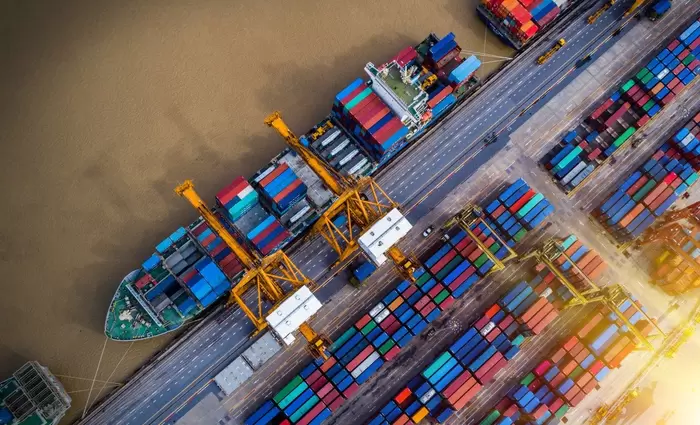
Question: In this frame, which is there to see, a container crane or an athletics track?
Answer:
container crane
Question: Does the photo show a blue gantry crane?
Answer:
No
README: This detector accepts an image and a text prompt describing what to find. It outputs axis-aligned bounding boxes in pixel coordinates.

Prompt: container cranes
[581,279,669,357]
[441,201,517,279]
[262,116,420,287]
[177,182,336,361]
[517,233,602,314]
[632,218,700,301]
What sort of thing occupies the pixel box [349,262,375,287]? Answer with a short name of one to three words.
truck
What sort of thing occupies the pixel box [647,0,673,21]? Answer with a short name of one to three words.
truck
